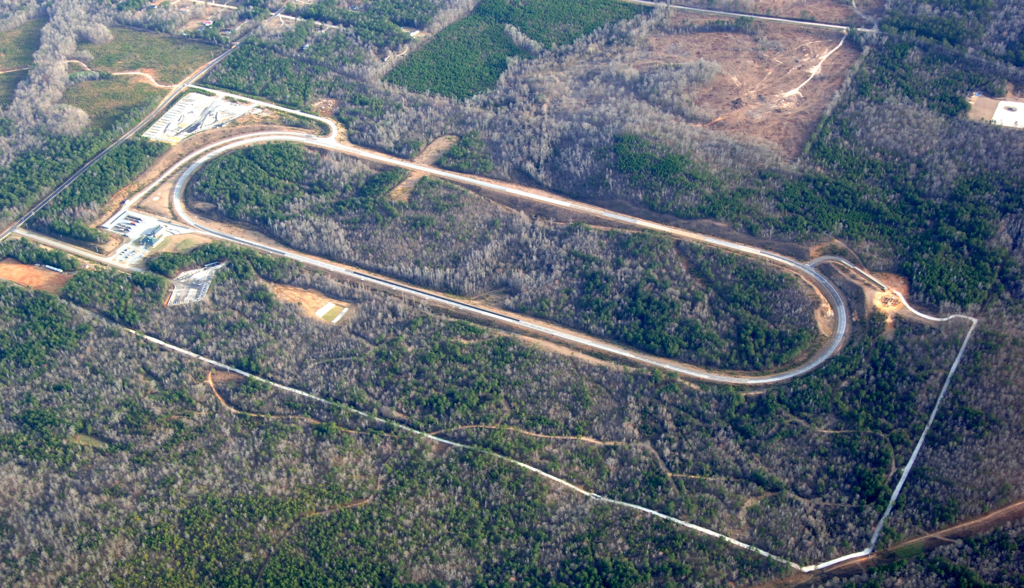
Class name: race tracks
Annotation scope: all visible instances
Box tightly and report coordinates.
[171,136,847,384]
